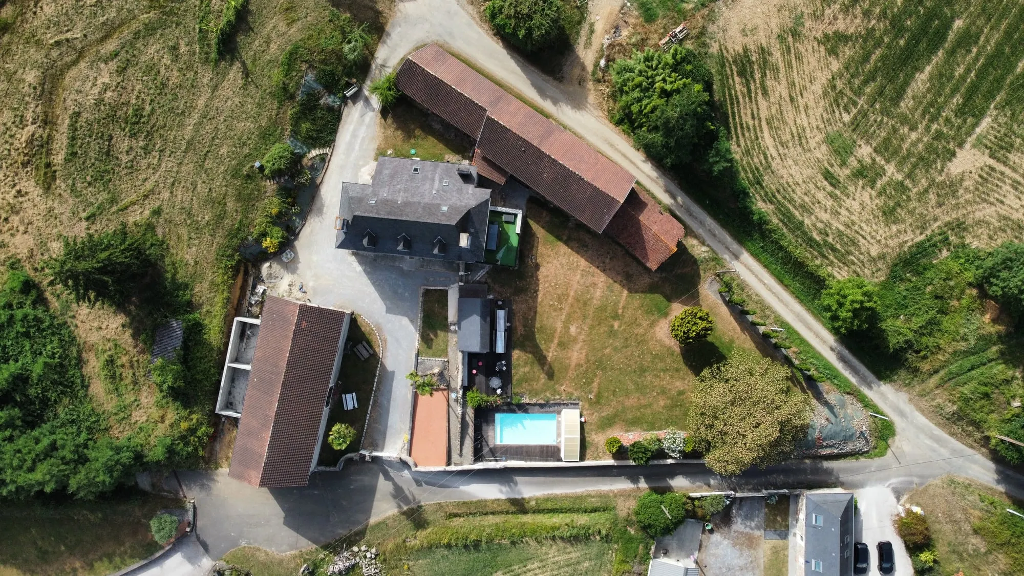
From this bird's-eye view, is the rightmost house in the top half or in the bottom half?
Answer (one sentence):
Seen from above, the rightmost house lies in the bottom half of the view.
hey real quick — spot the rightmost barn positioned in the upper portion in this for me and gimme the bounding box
[601,183,685,270]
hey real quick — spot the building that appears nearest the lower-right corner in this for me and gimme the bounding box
[795,487,855,576]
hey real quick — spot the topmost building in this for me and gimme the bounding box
[396,43,505,144]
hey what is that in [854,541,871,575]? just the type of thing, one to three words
car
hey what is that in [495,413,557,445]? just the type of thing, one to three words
swimming pool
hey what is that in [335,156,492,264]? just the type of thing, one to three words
house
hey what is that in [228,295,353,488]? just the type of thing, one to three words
barn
